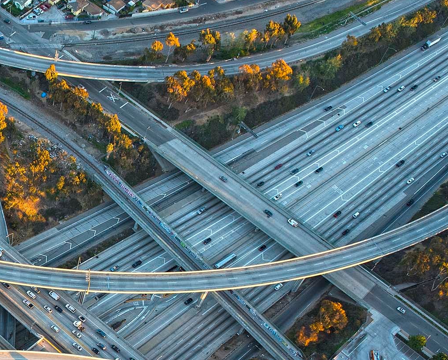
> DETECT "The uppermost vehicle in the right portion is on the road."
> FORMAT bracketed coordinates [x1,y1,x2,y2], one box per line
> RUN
[416,32,444,53]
